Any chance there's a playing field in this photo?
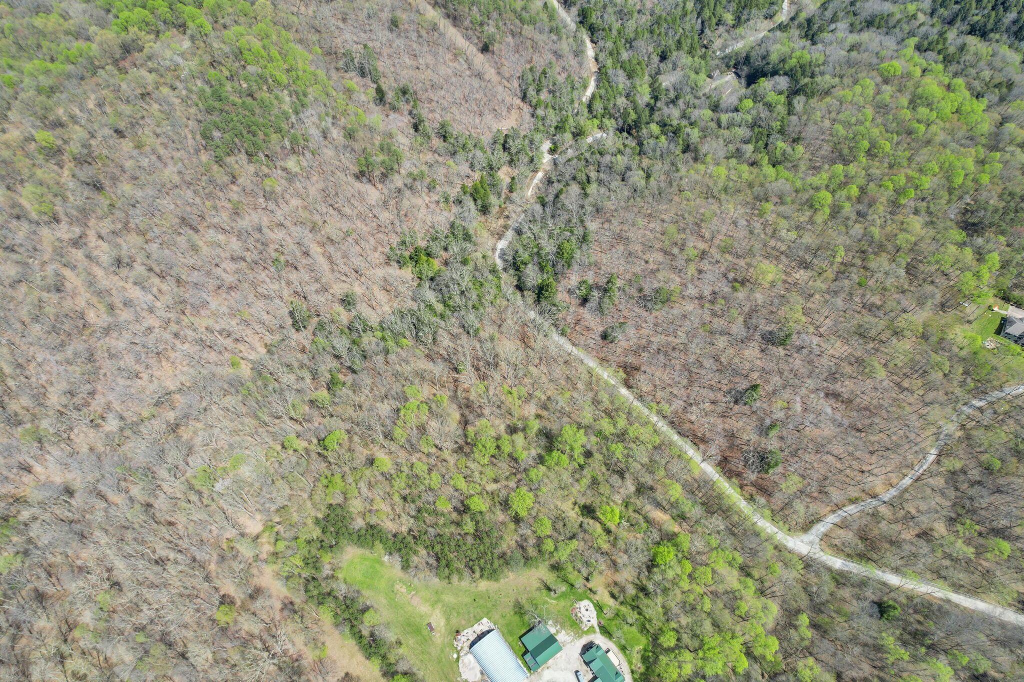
No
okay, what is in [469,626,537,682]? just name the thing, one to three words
shed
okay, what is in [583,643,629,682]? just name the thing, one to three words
house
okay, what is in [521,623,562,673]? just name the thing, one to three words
barn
